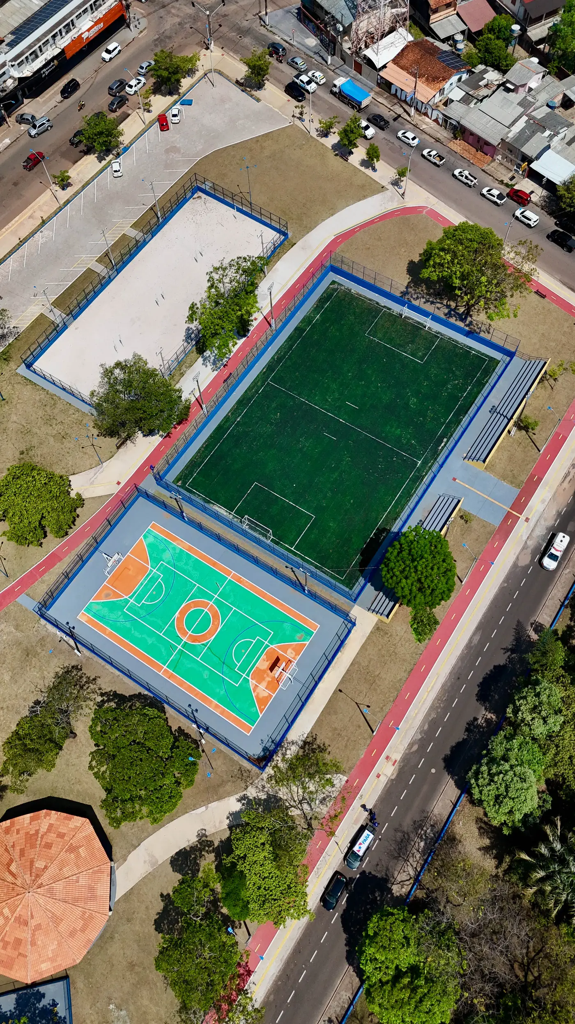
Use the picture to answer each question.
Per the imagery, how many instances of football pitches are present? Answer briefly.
1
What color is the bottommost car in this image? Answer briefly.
black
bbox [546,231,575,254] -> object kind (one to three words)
truck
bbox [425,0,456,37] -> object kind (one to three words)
house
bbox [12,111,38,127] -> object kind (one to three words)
car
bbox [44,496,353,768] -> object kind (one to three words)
sports court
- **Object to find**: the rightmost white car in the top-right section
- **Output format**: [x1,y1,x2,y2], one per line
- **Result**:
[512,209,542,228]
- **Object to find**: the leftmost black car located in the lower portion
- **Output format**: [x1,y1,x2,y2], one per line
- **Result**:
[320,871,347,913]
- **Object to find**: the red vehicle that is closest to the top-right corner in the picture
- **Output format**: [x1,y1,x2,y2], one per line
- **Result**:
[505,189,534,208]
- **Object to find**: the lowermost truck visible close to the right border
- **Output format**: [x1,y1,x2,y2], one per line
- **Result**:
[544,531,572,572]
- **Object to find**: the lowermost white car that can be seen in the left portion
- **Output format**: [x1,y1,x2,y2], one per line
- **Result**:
[109,160,123,178]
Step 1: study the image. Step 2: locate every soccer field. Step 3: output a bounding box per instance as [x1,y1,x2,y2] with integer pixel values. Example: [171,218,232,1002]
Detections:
[160,269,511,602]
